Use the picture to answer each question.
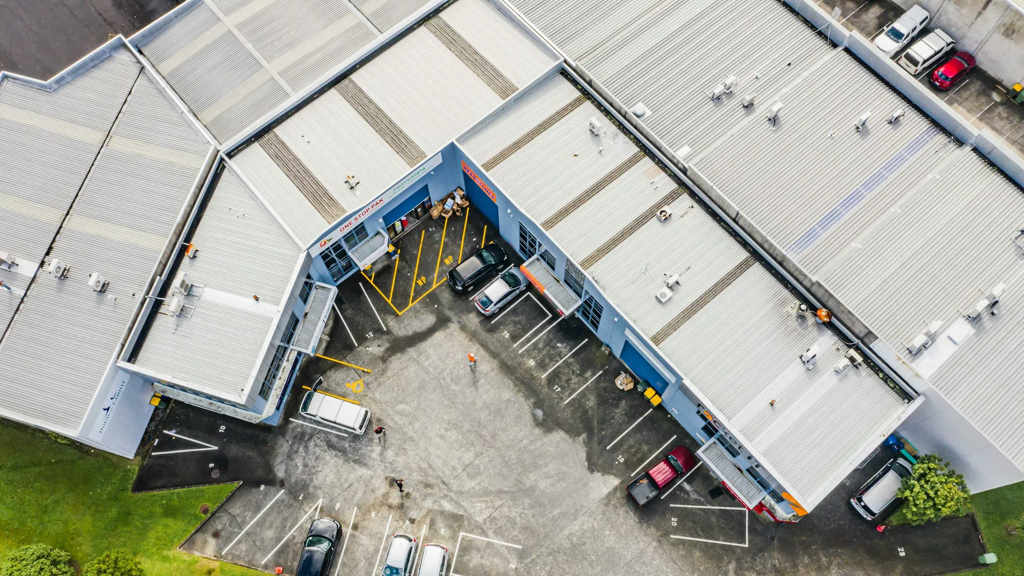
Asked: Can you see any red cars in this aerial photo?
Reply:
Yes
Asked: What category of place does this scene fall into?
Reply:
industrial area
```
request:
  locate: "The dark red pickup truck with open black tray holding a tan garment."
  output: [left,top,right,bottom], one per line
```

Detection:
[625,449,697,509]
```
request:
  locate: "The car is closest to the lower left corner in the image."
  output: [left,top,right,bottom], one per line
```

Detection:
[295,516,342,576]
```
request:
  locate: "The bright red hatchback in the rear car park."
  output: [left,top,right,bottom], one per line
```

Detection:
[931,54,973,89]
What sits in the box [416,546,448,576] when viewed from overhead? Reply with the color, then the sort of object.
white car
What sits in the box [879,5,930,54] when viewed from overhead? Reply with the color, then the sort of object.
white truck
